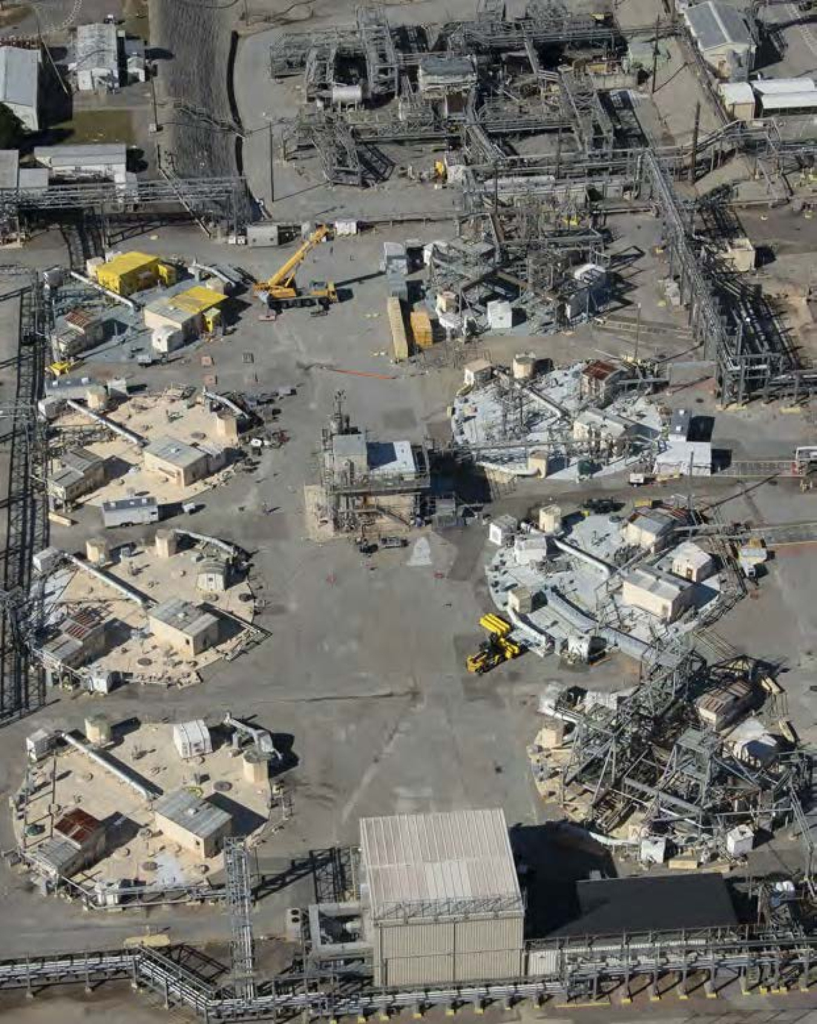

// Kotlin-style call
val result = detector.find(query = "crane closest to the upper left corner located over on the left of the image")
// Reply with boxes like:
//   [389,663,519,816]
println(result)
[254,223,339,312]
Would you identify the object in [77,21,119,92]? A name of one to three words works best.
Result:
barn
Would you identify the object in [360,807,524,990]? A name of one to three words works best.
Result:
building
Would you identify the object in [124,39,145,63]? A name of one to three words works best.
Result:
shed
